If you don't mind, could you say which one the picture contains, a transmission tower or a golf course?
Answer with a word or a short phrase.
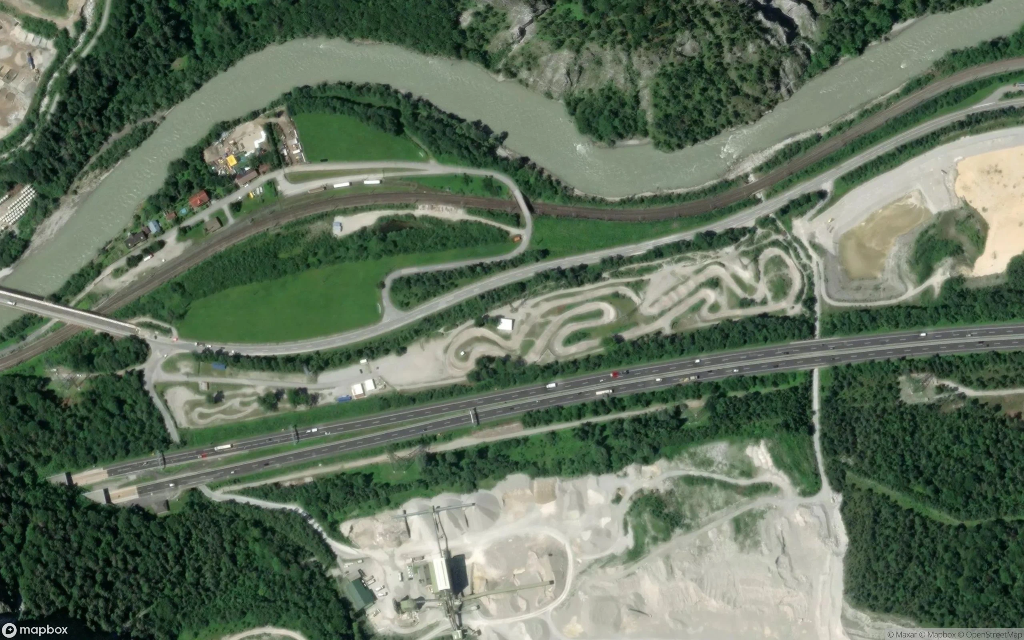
transmission tower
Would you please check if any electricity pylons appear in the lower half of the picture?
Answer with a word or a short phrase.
Yes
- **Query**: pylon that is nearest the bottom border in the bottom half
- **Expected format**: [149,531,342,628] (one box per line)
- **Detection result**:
[388,441,405,473]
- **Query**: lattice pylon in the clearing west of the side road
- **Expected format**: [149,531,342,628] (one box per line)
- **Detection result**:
[55,361,80,392]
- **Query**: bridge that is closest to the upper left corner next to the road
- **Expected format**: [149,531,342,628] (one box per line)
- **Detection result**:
[0,291,138,338]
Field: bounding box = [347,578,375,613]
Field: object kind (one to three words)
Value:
building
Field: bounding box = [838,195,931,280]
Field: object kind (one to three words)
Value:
pond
